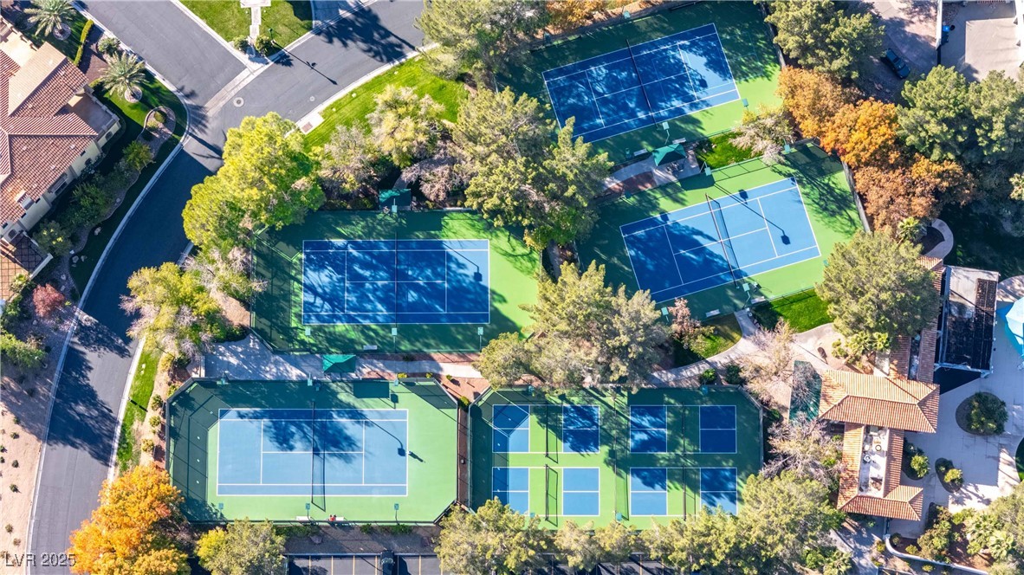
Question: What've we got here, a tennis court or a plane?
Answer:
tennis court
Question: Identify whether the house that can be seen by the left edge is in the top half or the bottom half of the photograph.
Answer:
top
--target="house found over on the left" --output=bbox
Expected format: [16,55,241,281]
[0,5,124,263]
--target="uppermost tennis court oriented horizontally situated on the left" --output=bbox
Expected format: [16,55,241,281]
[253,213,538,352]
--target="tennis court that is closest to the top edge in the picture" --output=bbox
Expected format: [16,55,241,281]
[497,0,783,171]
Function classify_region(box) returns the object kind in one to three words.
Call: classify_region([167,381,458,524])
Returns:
tennis court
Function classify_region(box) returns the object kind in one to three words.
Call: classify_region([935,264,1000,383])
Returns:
building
